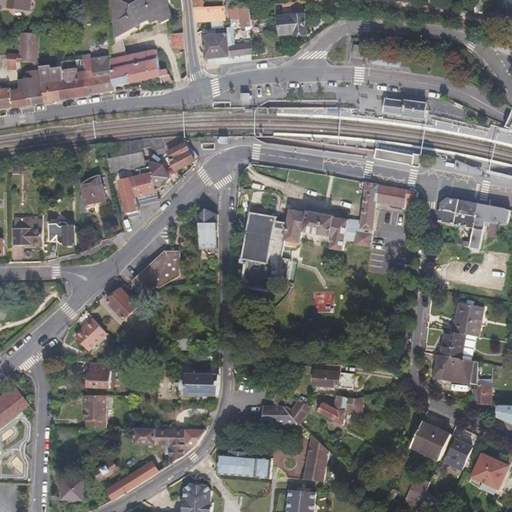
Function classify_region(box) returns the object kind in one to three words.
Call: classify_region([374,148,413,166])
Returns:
building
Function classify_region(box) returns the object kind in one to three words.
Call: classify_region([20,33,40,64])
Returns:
barn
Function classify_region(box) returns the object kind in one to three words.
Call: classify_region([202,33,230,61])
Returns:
house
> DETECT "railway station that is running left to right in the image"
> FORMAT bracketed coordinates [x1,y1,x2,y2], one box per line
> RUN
[274,108,512,170]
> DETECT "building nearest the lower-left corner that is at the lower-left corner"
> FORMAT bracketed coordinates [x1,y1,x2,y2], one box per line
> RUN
[60,482,85,502]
